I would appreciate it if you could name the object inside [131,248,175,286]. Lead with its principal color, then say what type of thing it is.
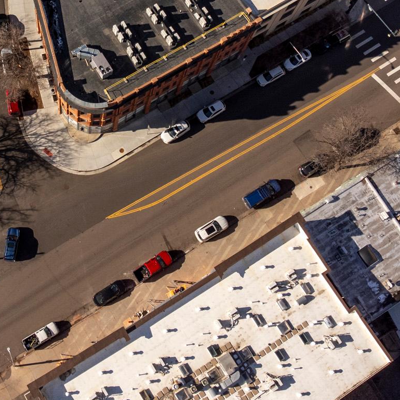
red truck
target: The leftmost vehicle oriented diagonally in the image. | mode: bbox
[17,318,63,357]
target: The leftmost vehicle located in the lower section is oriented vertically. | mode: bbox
[2,224,22,266]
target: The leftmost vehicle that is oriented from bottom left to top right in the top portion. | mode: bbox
[159,117,193,146]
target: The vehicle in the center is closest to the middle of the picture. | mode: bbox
[194,215,230,244]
